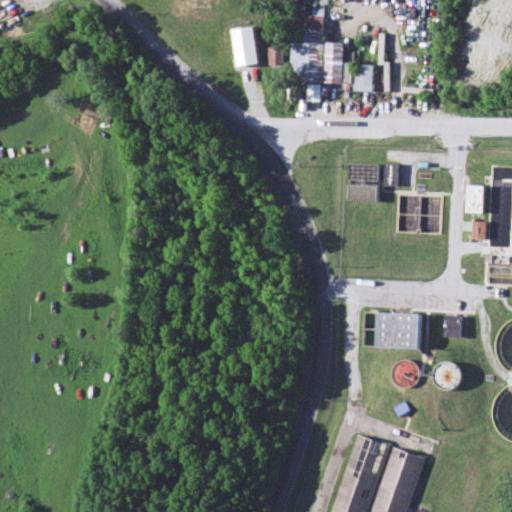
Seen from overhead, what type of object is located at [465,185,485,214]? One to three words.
building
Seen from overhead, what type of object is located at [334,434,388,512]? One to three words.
barn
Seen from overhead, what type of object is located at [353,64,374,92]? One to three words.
building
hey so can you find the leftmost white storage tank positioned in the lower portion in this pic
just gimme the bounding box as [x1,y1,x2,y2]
[433,362,463,390]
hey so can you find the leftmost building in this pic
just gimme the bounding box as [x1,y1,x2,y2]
[230,26,258,69]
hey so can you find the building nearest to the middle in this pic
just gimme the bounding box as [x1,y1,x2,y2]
[348,164,380,202]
